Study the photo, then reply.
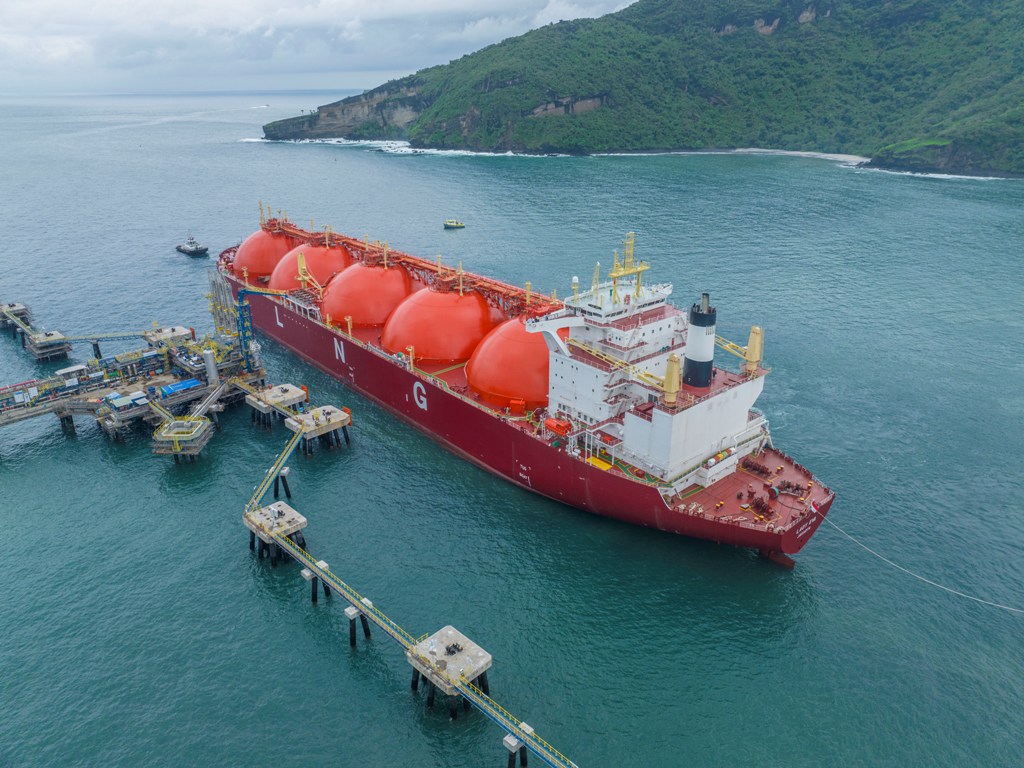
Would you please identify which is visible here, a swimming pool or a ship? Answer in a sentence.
This aerial view contains a ship.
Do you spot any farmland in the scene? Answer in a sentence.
No, farmland can't be seen anywhere here.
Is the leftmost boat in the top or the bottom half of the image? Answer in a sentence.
The top half of the photo is where the leftmost boat is.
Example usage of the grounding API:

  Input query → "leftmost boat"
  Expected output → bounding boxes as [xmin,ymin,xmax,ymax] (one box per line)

[174,235,206,255]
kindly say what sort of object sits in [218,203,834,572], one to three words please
ship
